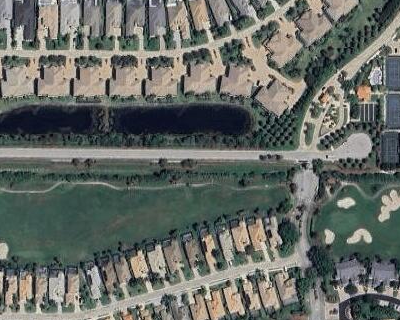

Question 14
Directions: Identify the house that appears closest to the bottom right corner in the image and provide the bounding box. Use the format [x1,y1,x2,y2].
[370,260,397,286]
